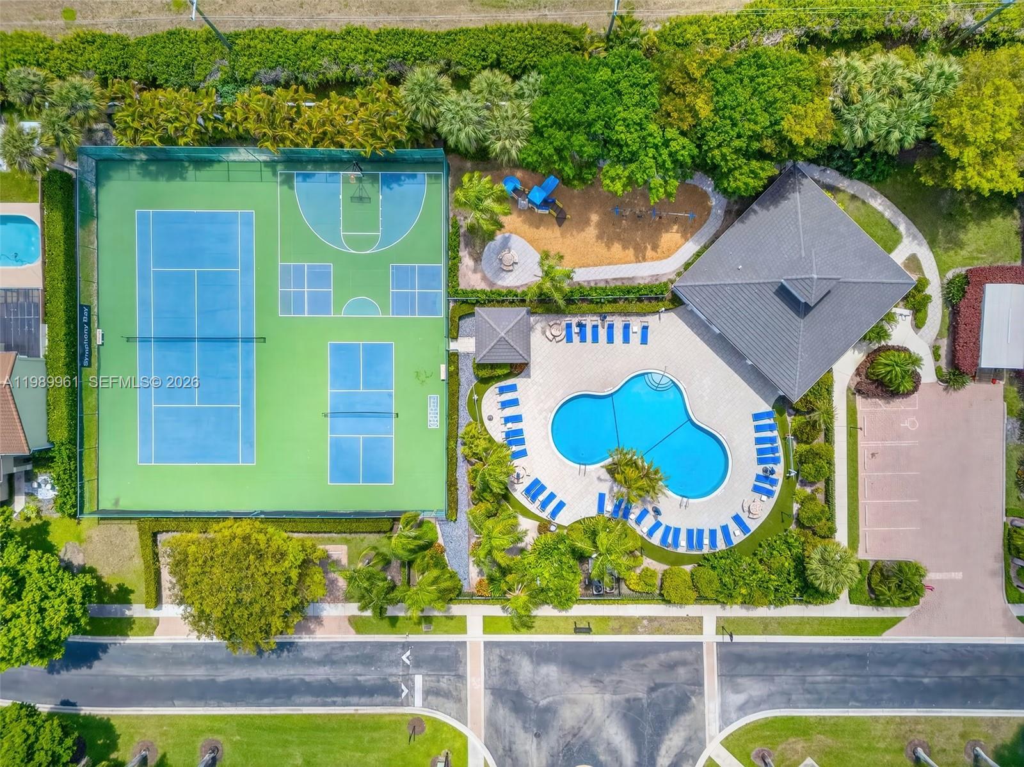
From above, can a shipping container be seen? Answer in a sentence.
No, there's no shipping container here.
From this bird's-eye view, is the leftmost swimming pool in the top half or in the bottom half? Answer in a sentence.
The leftmost swimming pool sits in the top half of the picture.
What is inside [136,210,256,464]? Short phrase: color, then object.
blue tennis court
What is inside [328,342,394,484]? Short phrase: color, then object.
blue sports court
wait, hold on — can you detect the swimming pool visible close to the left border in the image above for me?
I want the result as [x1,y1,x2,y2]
[0,212,42,269]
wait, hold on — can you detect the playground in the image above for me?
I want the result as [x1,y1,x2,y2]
[503,171,570,226]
